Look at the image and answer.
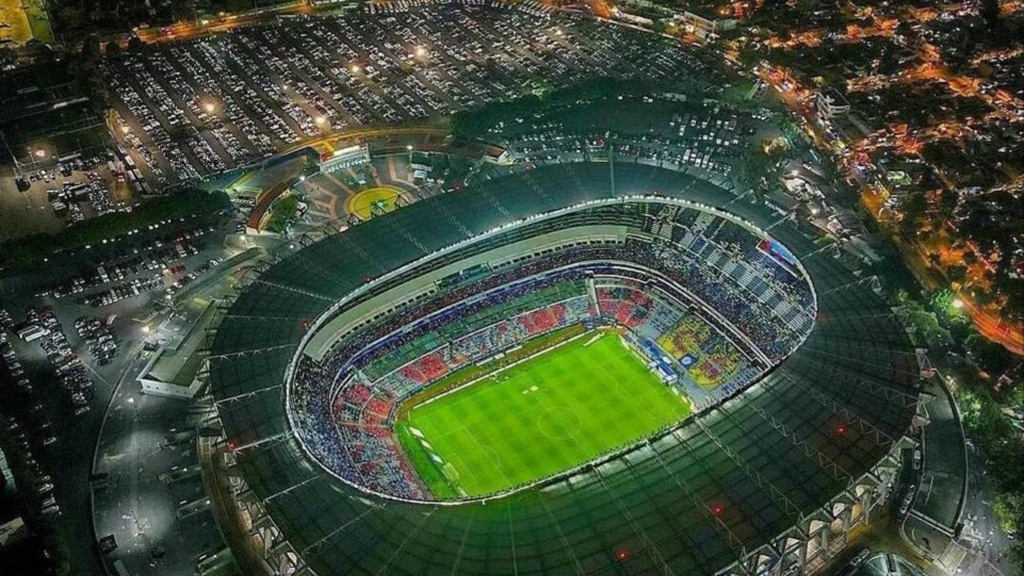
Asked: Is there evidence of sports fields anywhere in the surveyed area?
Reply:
Yes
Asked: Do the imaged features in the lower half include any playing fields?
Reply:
Yes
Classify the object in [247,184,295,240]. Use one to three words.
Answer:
building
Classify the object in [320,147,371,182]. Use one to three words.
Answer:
building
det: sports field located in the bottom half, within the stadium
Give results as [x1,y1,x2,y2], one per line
[406,329,699,498]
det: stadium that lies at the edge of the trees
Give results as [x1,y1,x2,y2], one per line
[203,153,928,576]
